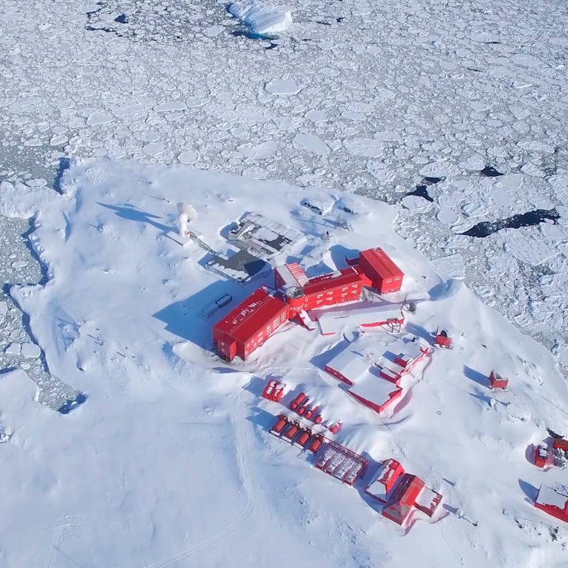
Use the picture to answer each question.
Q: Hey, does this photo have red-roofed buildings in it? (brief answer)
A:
Yes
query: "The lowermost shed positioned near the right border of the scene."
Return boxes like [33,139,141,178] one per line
[535,485,568,524]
